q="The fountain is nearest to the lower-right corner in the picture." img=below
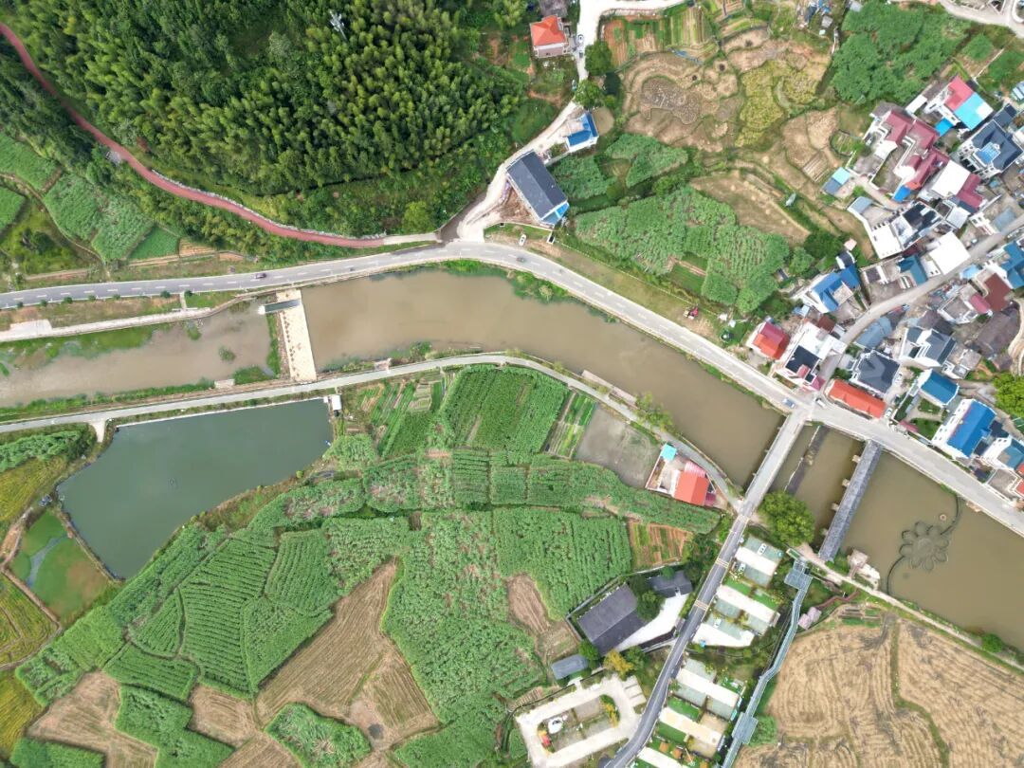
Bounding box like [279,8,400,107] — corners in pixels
[887,497,959,594]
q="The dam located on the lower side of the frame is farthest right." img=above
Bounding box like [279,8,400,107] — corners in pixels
[785,430,827,495]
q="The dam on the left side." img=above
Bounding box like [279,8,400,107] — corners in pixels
[258,290,317,380]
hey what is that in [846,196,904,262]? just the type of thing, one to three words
house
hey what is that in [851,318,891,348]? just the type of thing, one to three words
building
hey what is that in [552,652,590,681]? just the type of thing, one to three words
building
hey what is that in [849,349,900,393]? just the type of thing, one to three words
house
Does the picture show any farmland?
Yes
